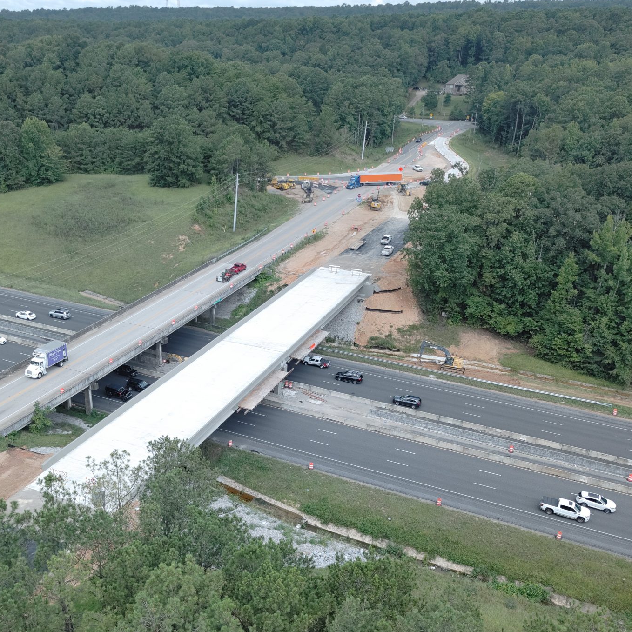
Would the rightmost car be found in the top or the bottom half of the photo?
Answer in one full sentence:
The bottom half of the photo is where the rightmost car is.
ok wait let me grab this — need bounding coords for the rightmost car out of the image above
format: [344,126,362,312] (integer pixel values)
[577,489,618,513]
